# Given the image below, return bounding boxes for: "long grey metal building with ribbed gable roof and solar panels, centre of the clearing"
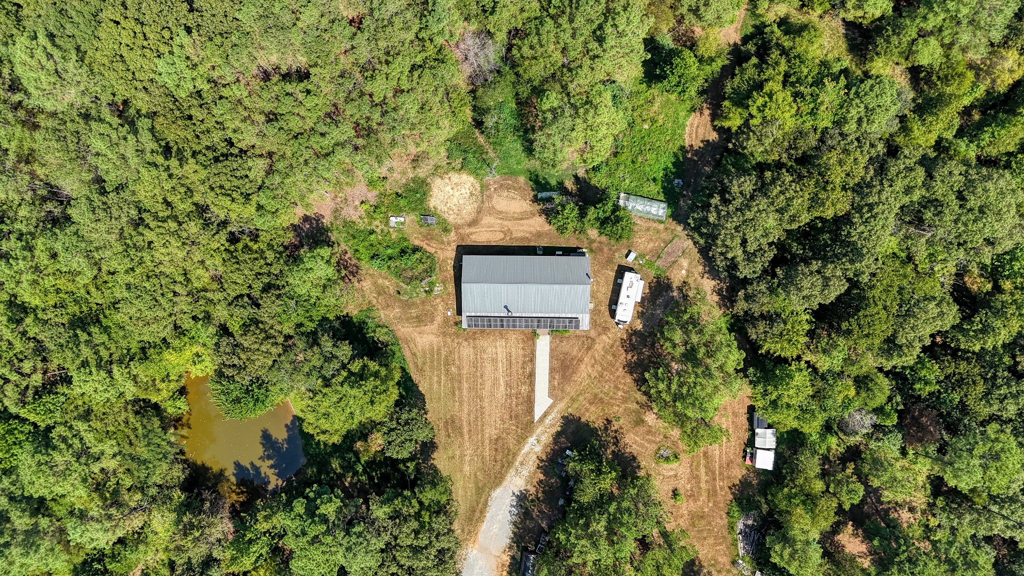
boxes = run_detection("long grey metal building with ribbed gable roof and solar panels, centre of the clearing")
[461,255,594,330]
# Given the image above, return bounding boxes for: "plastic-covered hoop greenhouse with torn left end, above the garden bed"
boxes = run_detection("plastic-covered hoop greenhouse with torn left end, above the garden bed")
[618,192,669,222]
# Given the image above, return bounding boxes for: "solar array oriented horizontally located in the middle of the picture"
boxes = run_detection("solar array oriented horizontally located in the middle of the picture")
[467,318,580,330]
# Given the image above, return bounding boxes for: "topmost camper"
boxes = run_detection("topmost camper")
[614,271,643,328]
